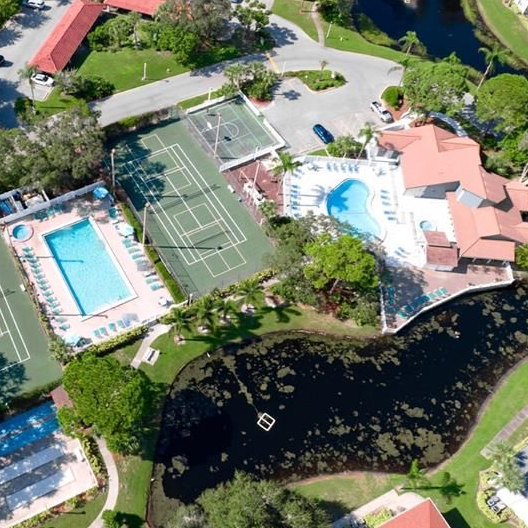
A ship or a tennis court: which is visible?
tennis court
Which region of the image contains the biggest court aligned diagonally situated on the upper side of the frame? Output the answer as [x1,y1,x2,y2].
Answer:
[100,118,279,295]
